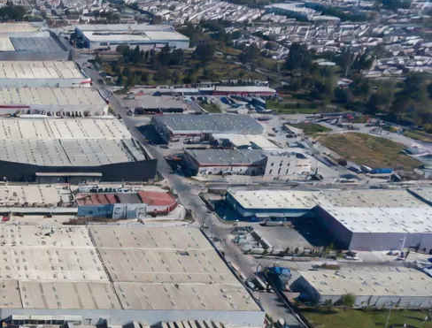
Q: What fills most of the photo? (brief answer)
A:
buildings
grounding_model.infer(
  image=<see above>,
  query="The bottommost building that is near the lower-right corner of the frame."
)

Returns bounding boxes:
[294,269,432,310]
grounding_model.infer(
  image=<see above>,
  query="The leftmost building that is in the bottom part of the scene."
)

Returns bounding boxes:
[0,185,77,216]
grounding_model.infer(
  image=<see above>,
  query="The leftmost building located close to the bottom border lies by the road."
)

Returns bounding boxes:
[0,225,263,328]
